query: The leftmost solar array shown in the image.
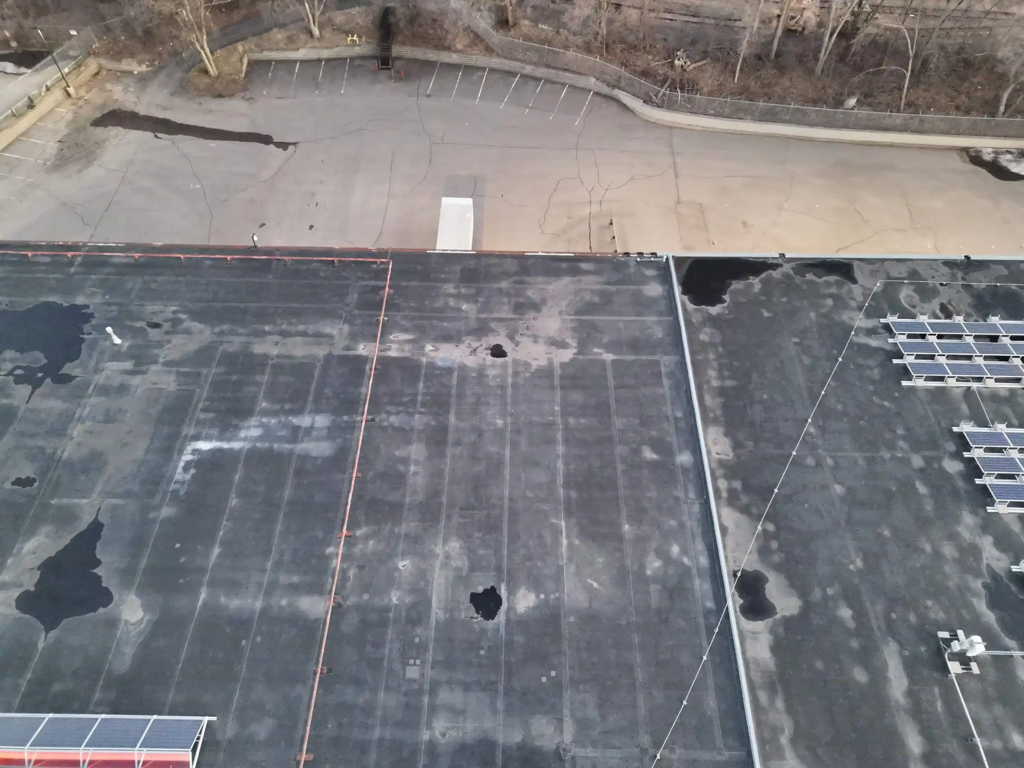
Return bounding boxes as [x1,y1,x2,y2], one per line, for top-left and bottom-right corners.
[0,713,217,768]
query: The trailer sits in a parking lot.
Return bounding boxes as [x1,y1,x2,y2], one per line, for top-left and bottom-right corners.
[435,198,474,250]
